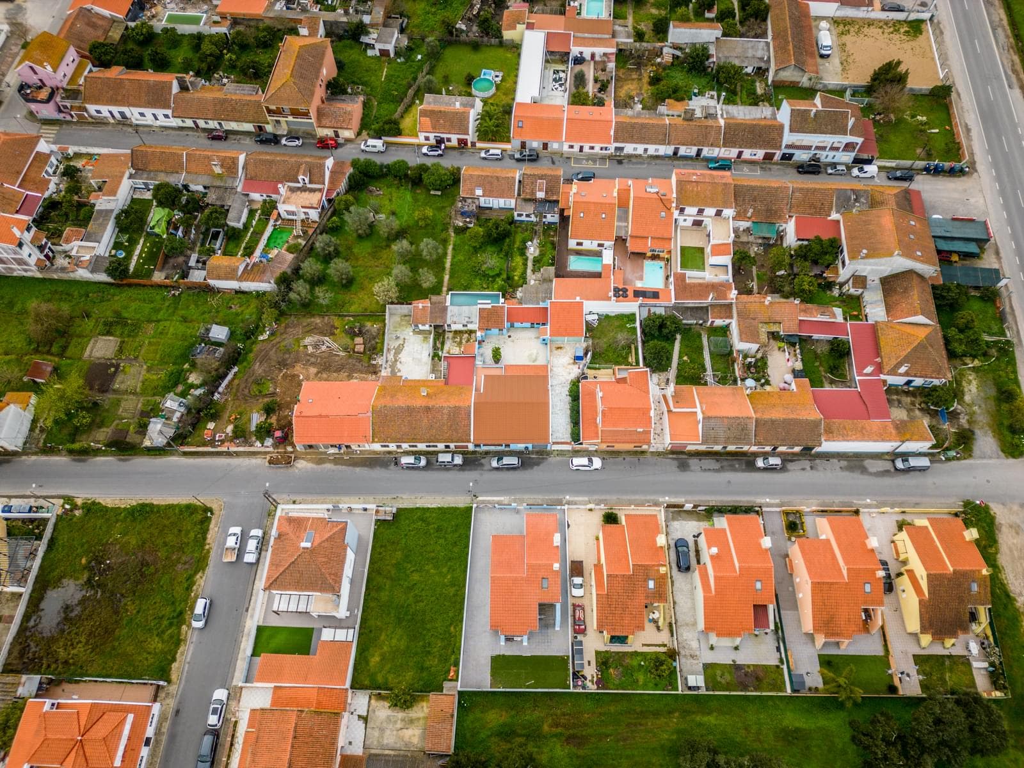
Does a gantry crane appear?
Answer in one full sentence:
No, I can see no gantry crane in this picture.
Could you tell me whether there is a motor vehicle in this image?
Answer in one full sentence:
Yes, this view includes a motor vehicle.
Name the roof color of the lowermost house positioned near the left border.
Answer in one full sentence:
The roof of the lowermost house positioned near the left border is orange.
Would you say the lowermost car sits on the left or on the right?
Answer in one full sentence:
The lowermost car is on the left side of the image.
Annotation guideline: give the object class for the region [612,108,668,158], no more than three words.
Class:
house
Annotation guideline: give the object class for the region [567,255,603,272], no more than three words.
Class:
swimming pool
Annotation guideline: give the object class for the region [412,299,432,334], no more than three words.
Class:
shed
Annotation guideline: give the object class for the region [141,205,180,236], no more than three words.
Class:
gazebo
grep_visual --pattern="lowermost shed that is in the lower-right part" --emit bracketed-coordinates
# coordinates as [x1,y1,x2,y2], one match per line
[790,671,814,693]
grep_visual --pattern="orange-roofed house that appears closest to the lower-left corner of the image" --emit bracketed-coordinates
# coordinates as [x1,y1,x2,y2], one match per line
[5,699,162,768]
